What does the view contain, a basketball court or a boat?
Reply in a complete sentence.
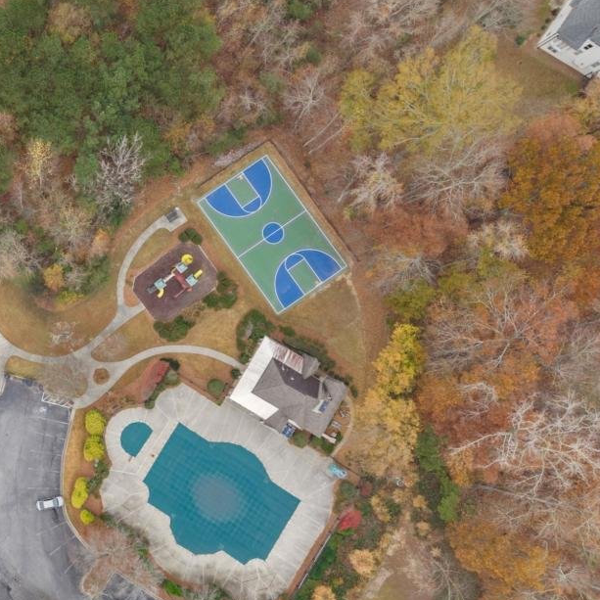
It is a basketball court that can be seen here.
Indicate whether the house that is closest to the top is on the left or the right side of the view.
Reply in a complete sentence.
The house that is closest to the top appears in the right half of the scene.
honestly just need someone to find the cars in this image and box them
[36,496,64,511]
